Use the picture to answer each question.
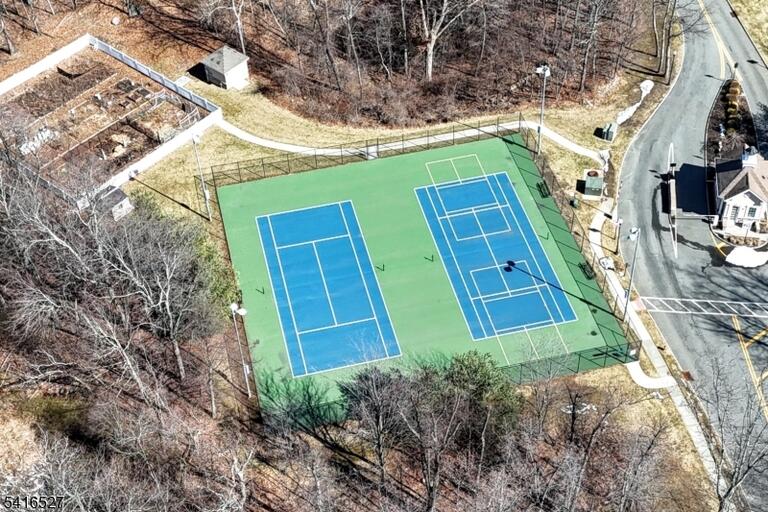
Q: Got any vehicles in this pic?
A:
No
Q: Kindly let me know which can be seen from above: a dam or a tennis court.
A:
tennis court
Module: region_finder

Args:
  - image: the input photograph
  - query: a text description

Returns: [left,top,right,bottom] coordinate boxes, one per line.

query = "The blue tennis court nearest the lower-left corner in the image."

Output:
[256,200,402,377]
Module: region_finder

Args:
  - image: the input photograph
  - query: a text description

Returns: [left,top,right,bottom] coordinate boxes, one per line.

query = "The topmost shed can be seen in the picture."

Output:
[202,46,249,88]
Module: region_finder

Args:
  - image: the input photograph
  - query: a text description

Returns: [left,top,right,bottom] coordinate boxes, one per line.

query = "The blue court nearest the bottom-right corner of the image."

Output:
[415,154,578,364]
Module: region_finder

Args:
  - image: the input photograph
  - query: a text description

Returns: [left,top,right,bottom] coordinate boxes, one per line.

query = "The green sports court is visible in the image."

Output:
[215,133,638,436]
